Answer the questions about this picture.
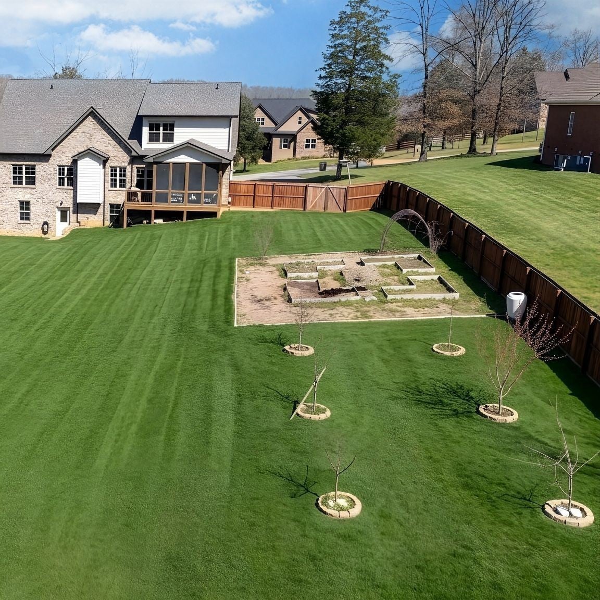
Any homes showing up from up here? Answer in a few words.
Yes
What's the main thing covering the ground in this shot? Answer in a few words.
grass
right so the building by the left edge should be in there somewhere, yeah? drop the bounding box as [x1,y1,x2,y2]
[0,76,240,242]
